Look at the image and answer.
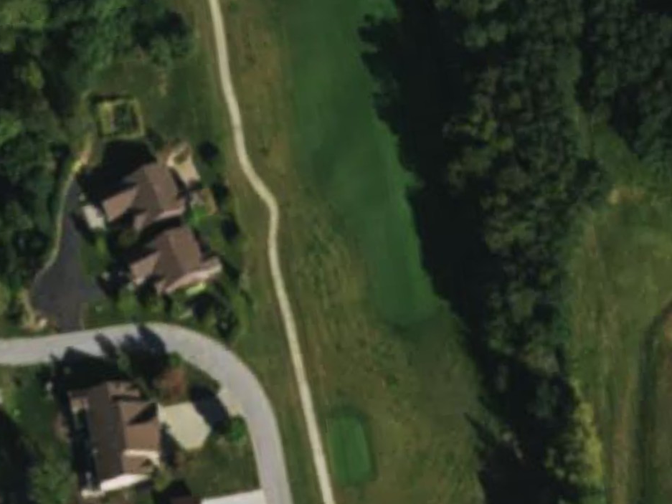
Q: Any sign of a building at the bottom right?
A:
No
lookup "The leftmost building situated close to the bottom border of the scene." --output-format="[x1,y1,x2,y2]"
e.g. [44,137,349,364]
[73,384,164,487]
